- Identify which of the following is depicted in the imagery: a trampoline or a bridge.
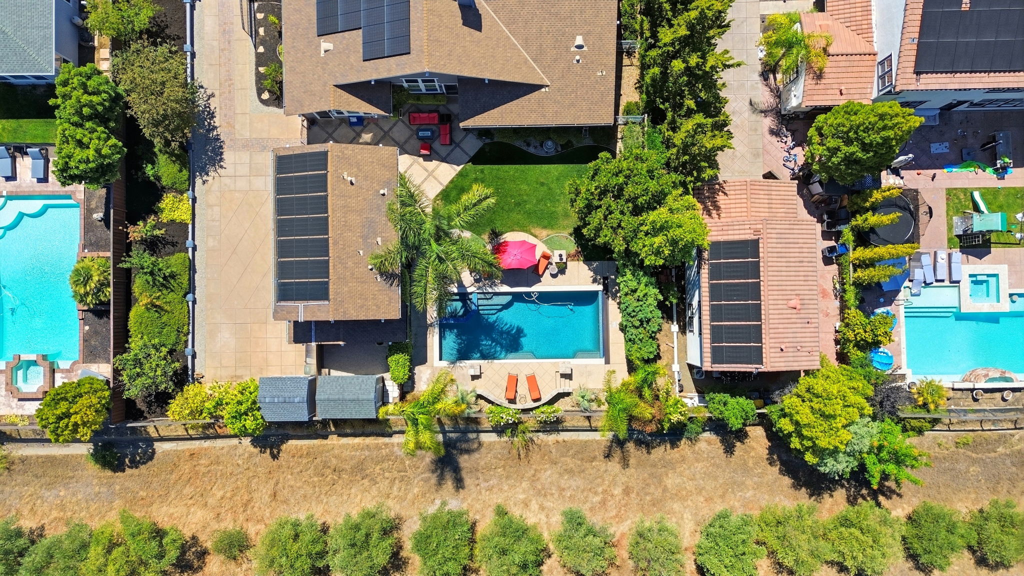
trampoline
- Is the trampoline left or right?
right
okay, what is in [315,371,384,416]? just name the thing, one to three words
shed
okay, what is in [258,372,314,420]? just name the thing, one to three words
shed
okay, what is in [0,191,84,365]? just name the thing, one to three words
swimming pool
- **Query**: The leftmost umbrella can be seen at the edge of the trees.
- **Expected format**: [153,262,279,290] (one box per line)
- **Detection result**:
[496,241,537,270]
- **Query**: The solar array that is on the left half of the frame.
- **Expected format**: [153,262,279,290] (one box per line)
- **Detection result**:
[315,0,409,59]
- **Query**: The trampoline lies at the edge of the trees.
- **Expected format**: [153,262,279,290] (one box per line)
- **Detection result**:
[861,188,932,247]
